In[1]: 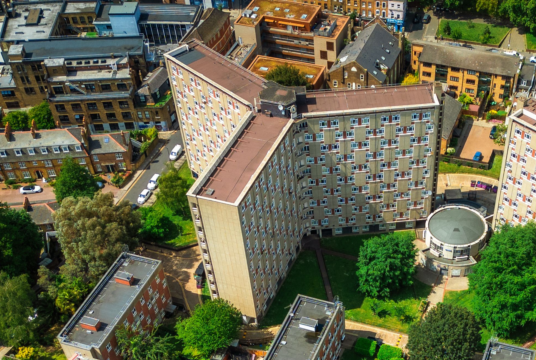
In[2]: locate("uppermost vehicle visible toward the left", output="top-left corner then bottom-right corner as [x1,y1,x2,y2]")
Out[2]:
[168,142,180,160]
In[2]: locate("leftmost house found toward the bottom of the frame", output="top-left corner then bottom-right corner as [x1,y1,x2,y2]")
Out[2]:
[14,196,63,242]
